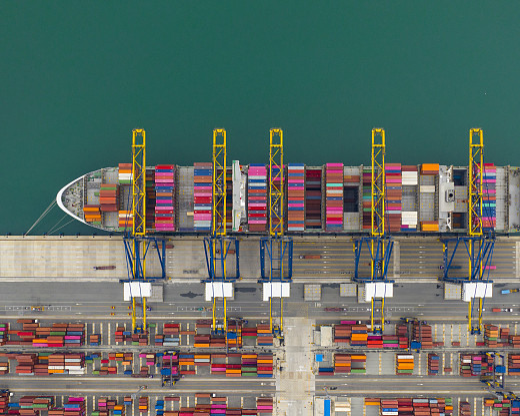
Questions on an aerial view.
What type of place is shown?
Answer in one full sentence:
This image shows a port.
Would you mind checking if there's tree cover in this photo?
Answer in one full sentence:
No, the picture contains no tree cover.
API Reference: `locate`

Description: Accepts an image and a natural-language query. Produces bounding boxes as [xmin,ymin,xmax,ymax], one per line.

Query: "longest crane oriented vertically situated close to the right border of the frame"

[440,127,497,334]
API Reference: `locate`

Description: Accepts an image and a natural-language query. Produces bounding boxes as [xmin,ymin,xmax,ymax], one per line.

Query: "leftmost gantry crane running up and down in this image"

[123,128,169,333]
